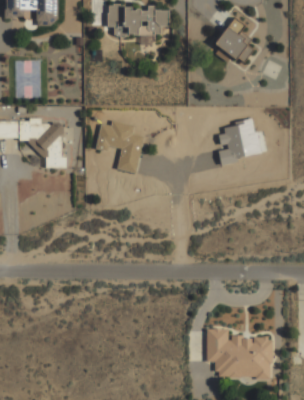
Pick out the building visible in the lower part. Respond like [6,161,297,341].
[206,329,274,385]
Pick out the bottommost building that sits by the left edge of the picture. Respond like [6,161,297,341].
[0,118,68,168]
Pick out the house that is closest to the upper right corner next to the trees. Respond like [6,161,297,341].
[216,18,252,62]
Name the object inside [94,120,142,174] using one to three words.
house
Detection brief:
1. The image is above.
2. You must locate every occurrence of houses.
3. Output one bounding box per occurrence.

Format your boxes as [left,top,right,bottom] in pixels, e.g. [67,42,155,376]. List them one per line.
[4,0,58,30]
[107,4,168,45]
[94,120,142,174]
[218,118,266,166]
[206,329,274,385]
[0,118,68,168]
[216,18,252,62]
